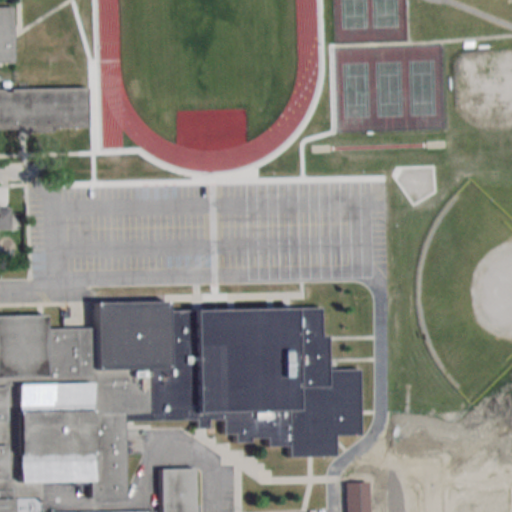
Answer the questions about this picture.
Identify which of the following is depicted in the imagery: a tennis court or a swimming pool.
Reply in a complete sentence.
The one in the frame is a tennis court.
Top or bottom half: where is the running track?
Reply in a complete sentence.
It is in the top half that the running track appears.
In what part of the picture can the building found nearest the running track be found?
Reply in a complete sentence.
Look in the top left portion of the view to spot the building found nearest the running track.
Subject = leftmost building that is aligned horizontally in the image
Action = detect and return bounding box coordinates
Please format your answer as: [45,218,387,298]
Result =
[0,88,90,131]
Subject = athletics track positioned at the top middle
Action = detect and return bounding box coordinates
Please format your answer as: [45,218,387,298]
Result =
[100,0,317,172]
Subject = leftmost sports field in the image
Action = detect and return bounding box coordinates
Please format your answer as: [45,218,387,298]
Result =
[120,0,297,146]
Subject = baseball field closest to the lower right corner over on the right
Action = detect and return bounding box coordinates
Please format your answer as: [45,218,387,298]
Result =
[420,182,512,401]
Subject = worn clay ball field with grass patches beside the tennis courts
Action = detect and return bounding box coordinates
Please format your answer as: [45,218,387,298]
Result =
[450,54,512,134]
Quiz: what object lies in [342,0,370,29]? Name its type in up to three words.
tennis court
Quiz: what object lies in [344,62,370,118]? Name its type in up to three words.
tennis court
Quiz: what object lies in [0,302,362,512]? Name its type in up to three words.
building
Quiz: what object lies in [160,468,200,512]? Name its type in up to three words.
building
